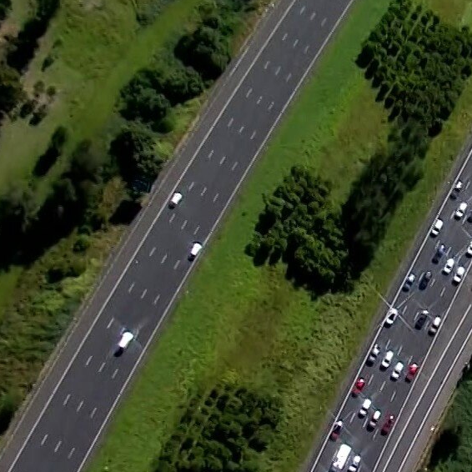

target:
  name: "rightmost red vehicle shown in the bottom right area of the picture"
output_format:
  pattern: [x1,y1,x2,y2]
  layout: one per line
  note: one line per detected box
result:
[405,364,418,380]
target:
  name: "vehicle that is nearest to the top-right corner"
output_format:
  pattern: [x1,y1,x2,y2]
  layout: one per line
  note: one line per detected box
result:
[450,182,463,198]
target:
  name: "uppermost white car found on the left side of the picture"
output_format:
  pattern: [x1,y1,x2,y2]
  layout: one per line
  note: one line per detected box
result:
[169,192,182,208]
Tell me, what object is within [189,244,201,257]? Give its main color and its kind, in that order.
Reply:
white vehicle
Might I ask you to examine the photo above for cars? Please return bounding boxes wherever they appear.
[466,240,472,256]
[418,272,432,290]
[351,378,365,396]
[380,416,395,435]
[432,246,445,262]
[450,182,463,198]
[169,192,182,208]
[453,266,465,284]
[402,274,415,292]
[385,309,398,327]
[348,455,361,472]
[189,244,201,257]
[405,364,418,380]
[329,419,344,441]
[431,219,443,236]
[358,399,371,417]
[367,347,380,365]
[391,362,404,380]
[428,318,442,334]
[380,351,394,369]
[415,312,428,330]
[454,202,468,218]
[442,258,455,275]
[368,410,381,429]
